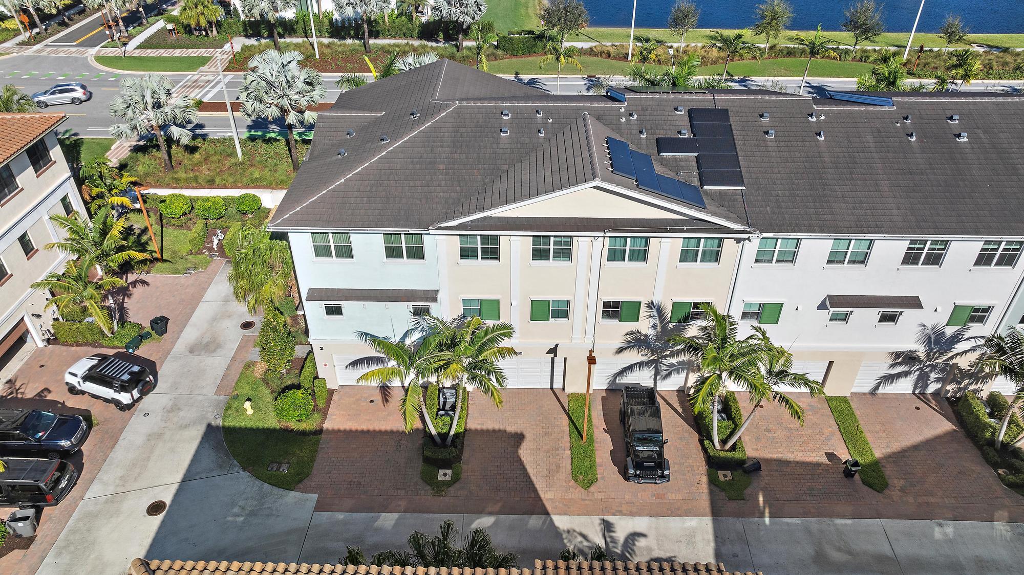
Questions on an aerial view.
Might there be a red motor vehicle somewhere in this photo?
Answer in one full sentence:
No, I find no red motor vehicle anywhere in the image.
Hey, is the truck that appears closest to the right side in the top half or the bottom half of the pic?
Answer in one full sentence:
You can find the truck that appears closest to the right side in the bottom half.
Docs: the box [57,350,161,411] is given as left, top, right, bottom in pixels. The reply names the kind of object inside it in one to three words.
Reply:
car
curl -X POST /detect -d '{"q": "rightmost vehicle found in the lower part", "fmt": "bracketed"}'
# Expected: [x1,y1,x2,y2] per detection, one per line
[617,380,673,484]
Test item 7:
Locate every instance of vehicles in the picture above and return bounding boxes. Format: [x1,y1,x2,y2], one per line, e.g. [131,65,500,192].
[0,400,89,453]
[0,444,77,508]
[57,350,161,411]
[617,380,673,484]
[26,78,92,109]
